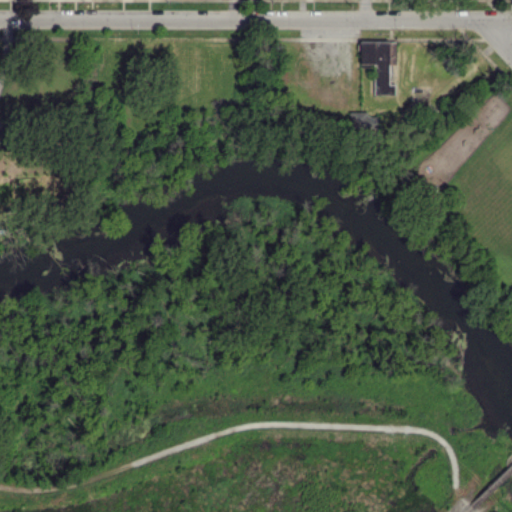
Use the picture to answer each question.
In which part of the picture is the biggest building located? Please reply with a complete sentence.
The biggest building is in the top right part of the image.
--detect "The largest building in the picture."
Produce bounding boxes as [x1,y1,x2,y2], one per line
[360,42,398,95]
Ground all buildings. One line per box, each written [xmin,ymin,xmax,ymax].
[350,110,379,128]
[360,42,398,95]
